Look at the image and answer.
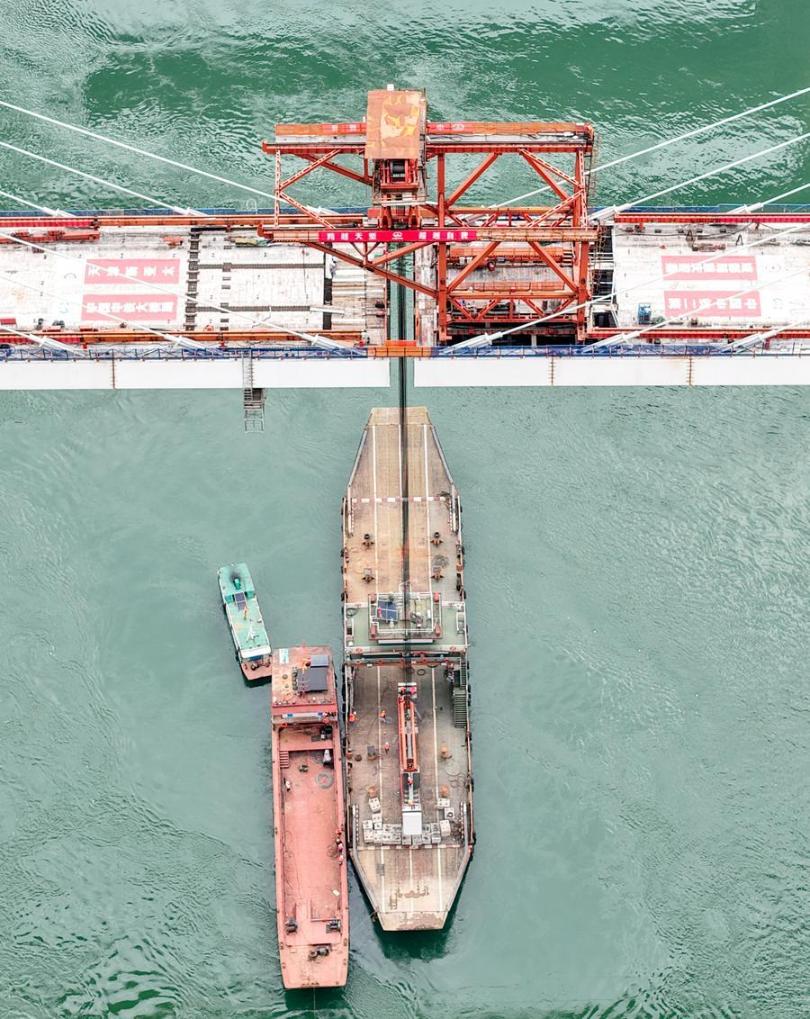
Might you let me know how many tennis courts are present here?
0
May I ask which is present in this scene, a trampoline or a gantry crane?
gantry crane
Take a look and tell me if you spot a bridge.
Yes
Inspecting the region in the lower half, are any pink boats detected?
Yes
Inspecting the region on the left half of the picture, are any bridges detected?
Yes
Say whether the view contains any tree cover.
No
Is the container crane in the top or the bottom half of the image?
top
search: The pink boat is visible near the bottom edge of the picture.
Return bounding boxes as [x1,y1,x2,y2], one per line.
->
[270,637,347,1018]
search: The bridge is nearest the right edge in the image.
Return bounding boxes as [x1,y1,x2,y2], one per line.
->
[415,84,810,388]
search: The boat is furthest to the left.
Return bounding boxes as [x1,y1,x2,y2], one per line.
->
[219,564,271,684]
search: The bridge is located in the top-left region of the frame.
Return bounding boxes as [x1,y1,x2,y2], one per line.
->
[0,99,390,388]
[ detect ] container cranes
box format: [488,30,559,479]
[254,116,614,340]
